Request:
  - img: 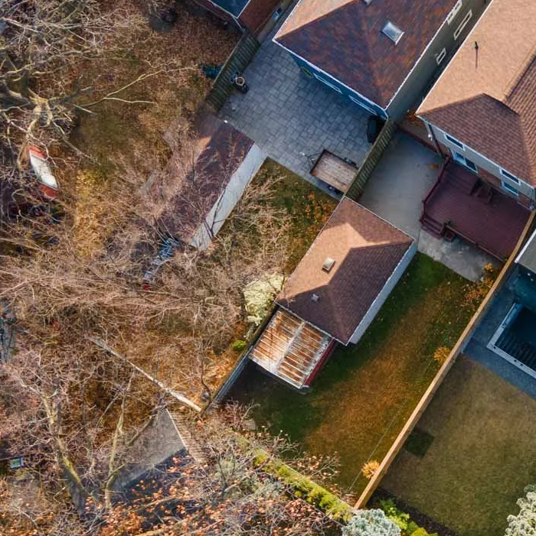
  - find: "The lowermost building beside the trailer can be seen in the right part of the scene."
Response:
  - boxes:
[276,196,416,346]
